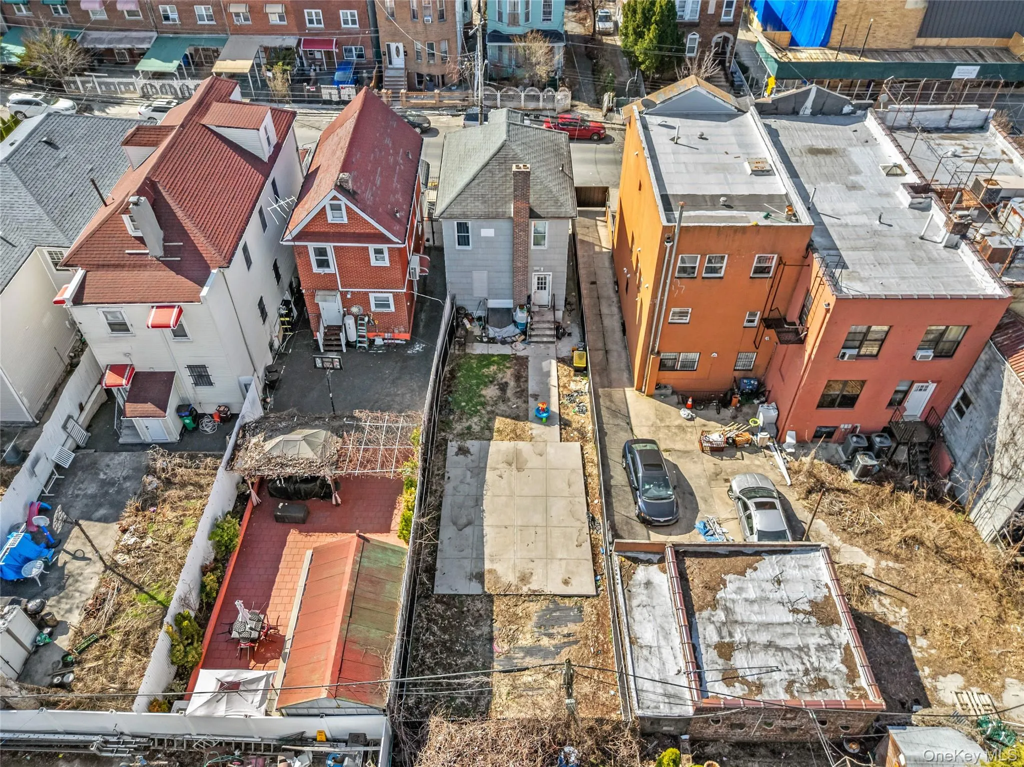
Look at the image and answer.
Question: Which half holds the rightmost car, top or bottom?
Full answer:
The rightmost car is in the bottom half of the image.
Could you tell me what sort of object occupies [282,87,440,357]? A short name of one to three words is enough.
house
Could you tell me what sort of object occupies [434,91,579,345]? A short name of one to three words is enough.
house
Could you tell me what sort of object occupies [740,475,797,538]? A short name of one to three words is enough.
car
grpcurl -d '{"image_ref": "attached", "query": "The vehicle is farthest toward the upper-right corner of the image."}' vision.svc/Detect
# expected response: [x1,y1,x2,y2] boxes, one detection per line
[595,7,616,33]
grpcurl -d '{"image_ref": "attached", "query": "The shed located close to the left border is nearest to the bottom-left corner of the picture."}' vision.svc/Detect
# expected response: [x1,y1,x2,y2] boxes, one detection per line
[0,600,42,665]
